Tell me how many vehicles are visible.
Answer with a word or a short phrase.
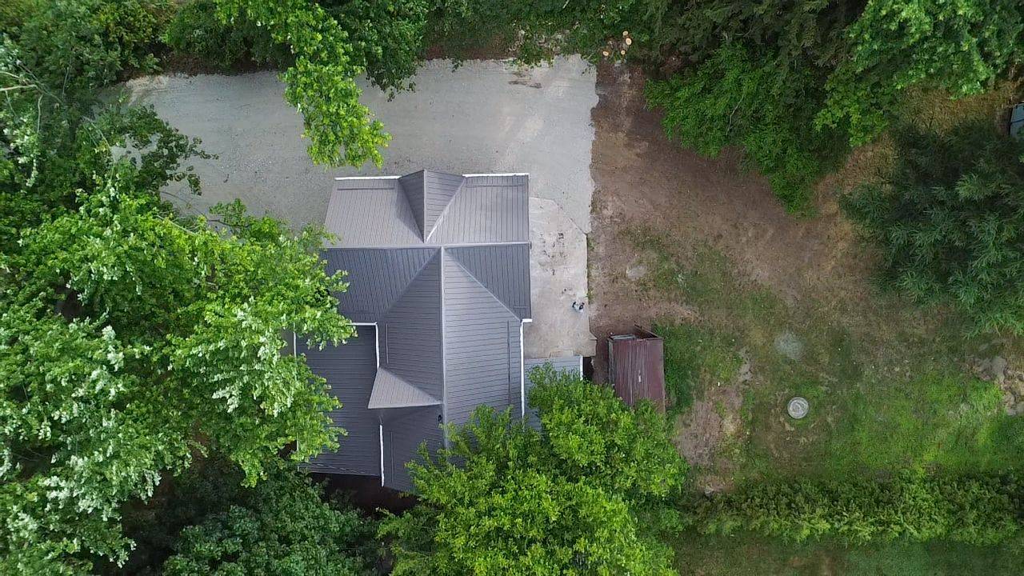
none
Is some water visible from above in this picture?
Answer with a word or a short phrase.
No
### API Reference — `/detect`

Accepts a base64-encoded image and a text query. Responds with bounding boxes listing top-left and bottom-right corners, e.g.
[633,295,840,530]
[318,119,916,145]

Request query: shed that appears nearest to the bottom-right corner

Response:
[608,319,666,417]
